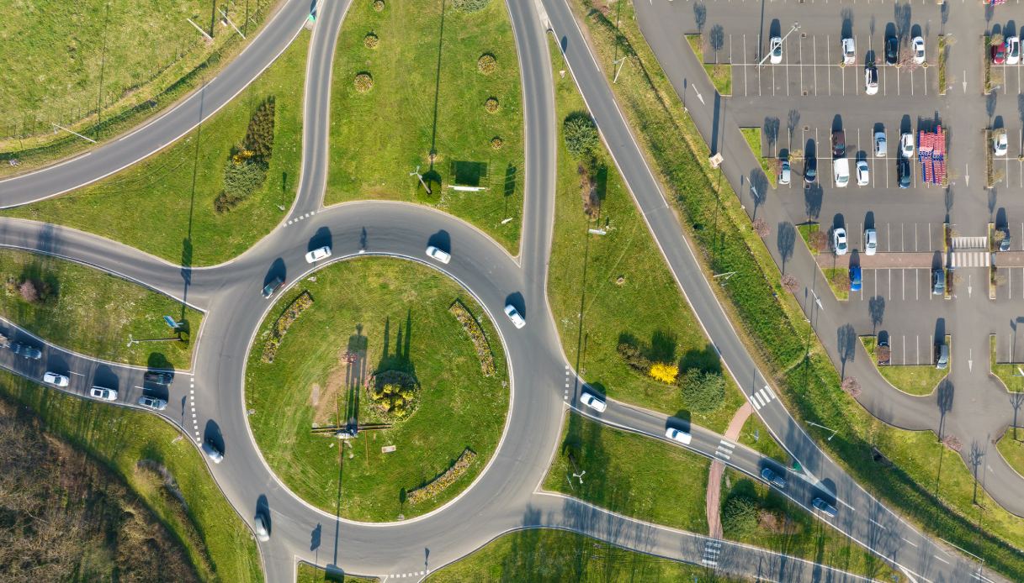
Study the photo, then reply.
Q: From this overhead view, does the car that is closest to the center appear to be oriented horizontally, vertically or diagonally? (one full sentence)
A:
In this picture, the car that is closest to the center is oriented diagonally.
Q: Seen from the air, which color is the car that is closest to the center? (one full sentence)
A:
The color of the car that is closest to the center is white.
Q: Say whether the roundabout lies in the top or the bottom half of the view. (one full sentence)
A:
You can find the roundabout in the bottom half.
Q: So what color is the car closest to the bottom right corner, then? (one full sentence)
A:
The car closest to the bottom right corner looks blue in the image.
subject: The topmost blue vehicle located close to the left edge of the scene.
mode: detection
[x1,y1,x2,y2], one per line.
[12,342,40,358]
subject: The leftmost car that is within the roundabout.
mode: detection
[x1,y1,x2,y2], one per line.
[201,441,224,464]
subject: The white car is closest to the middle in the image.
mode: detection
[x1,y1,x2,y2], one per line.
[505,305,527,329]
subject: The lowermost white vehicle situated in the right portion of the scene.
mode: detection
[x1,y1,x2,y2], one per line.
[664,426,693,445]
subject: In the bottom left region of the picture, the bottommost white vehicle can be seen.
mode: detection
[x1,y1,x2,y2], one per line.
[255,515,270,540]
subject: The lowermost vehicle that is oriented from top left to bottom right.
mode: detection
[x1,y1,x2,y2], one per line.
[811,497,838,518]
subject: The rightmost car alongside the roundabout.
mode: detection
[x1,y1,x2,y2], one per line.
[581,393,606,412]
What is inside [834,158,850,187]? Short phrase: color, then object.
white vehicle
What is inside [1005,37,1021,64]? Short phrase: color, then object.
white car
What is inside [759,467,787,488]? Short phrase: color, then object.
blue car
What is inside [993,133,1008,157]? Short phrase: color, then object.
white car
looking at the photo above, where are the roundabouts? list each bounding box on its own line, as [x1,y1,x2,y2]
[186,199,569,583]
